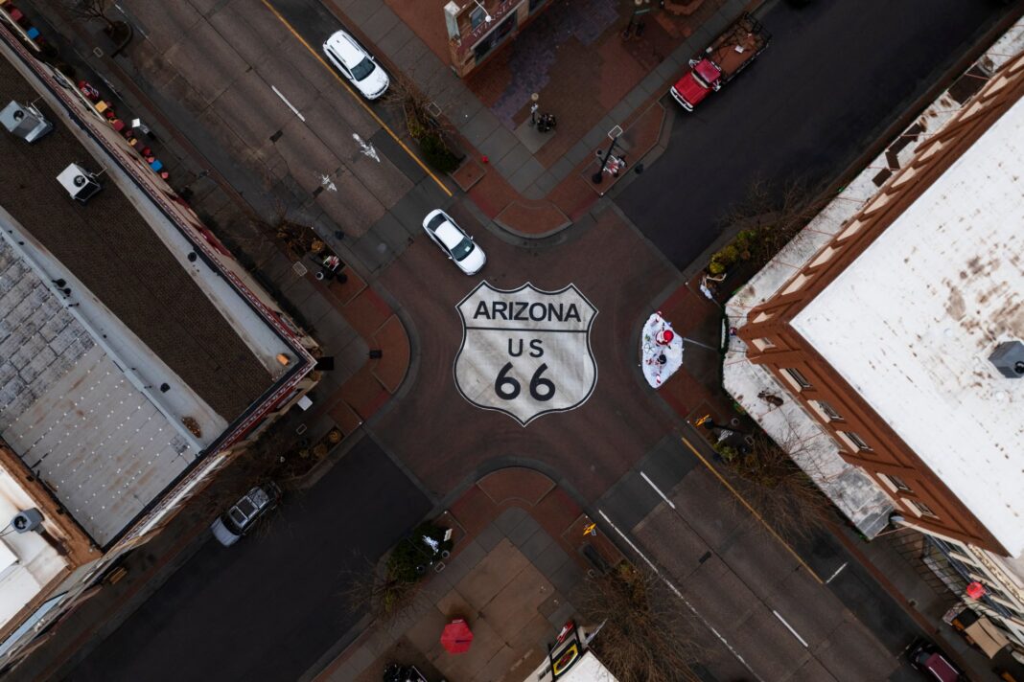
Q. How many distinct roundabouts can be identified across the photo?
0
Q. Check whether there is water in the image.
No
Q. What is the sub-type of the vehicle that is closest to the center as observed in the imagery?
automobile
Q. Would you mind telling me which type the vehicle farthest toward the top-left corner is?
car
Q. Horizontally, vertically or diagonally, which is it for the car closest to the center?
diagonally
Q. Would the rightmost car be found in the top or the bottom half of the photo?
bottom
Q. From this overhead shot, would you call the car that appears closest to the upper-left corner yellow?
No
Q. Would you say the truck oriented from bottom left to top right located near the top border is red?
Yes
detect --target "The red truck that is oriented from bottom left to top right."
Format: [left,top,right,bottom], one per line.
[668,6,775,115]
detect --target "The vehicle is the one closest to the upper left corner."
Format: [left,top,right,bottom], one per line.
[323,29,391,102]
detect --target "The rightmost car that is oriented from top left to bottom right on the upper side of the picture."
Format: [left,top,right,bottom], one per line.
[423,207,486,276]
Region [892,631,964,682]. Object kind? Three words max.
car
